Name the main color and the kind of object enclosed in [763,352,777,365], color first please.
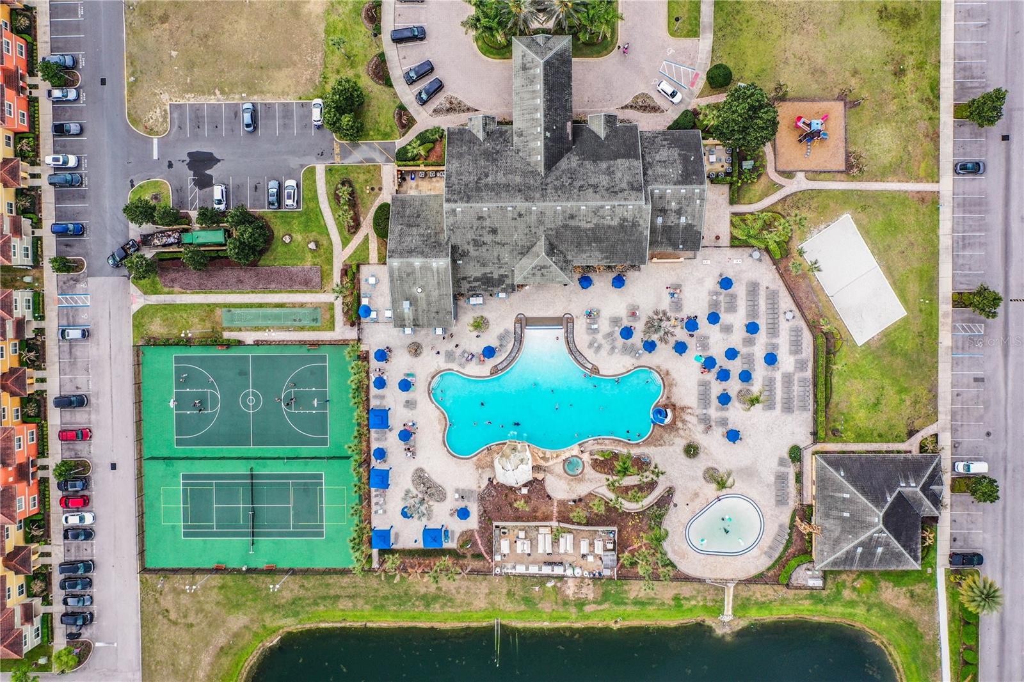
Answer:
blue umbrella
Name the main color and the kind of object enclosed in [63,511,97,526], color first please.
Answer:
white car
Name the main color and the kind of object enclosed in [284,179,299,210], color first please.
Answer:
white car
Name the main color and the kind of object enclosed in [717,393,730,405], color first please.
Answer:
blue umbrella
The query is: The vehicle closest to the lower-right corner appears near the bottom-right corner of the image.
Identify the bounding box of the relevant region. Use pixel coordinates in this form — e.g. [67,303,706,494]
[947,552,983,569]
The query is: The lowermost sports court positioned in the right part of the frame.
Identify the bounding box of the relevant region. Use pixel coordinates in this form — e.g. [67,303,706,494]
[799,213,907,346]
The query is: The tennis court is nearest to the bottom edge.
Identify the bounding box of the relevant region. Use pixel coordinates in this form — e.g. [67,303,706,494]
[144,457,355,568]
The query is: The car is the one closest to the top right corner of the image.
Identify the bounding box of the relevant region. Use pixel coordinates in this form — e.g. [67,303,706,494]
[953,160,983,175]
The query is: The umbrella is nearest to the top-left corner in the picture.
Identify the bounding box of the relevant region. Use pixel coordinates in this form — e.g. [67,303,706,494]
[359,305,371,318]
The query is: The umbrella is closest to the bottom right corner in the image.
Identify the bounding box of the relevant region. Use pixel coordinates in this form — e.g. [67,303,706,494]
[726,429,739,442]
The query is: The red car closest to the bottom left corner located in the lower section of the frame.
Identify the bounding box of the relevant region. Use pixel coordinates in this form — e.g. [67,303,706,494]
[61,495,92,510]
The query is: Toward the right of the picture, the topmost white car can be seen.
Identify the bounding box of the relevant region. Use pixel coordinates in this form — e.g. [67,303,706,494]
[655,79,682,105]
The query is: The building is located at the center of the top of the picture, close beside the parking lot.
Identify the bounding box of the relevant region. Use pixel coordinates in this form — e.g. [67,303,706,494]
[387,30,707,327]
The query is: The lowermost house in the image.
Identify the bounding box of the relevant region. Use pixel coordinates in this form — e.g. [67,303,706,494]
[0,600,42,665]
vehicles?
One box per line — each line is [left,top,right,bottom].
[390,25,426,44]
[47,87,81,103]
[52,393,90,409]
[952,460,991,476]
[62,592,95,608]
[284,179,299,210]
[48,172,84,188]
[45,153,81,169]
[65,634,80,640]
[212,183,229,212]
[58,559,97,576]
[59,326,91,342]
[63,511,97,526]
[106,238,144,268]
[953,160,983,175]
[404,60,436,84]
[60,610,96,627]
[415,78,445,104]
[53,121,85,137]
[51,221,87,236]
[310,99,325,127]
[64,526,97,542]
[61,495,92,510]
[655,79,682,105]
[241,103,257,133]
[59,575,95,592]
[266,180,282,210]
[947,552,983,569]
[57,477,90,493]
